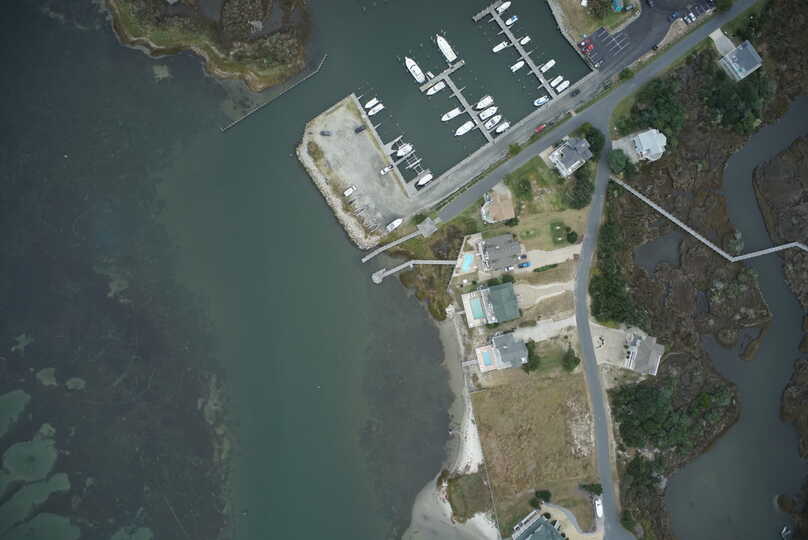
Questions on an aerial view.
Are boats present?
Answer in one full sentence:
Yes, a boat is visible in the scene.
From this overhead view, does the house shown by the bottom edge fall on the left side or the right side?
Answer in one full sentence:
You can find the house shown by the bottom edge on the right side of the picture.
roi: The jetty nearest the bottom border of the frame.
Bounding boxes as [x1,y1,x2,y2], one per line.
[372,259,457,284]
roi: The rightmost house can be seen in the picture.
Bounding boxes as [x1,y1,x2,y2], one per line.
[711,39,763,84]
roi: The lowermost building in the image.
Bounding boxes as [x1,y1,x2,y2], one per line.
[511,509,566,540]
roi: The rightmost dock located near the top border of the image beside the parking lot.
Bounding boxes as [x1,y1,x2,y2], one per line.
[471,0,559,98]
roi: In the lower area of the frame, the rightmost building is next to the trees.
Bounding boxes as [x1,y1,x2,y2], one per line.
[620,335,663,379]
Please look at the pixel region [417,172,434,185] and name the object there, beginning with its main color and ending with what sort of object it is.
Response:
white boat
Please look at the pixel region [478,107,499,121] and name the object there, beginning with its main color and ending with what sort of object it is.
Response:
white boat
